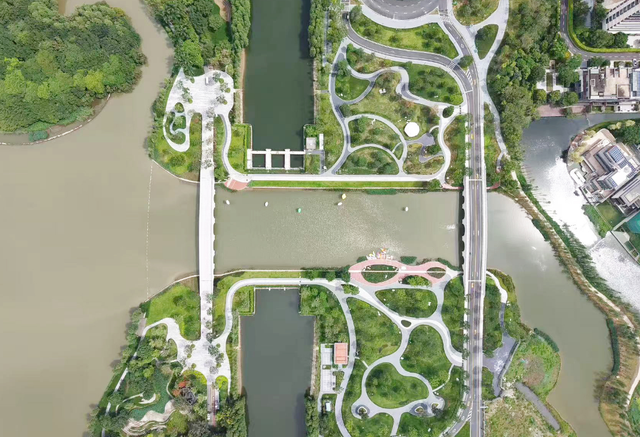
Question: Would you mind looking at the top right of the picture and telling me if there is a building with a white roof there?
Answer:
Yes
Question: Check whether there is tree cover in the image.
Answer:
Yes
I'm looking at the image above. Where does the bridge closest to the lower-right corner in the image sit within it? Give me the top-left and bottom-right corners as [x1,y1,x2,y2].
[462,179,489,281]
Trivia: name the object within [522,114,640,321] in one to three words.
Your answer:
pond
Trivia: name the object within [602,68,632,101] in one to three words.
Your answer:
house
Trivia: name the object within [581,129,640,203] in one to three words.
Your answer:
house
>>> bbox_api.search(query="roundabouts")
[352,0,449,29]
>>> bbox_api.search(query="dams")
[248,148,304,169]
